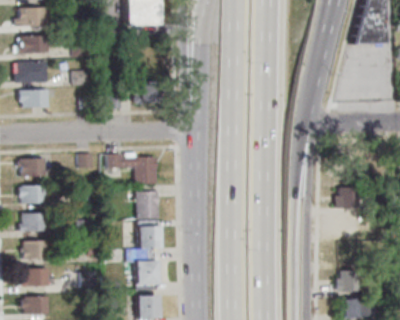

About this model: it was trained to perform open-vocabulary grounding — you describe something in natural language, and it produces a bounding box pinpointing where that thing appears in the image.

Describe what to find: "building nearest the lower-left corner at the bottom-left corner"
[18,296,50,316]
